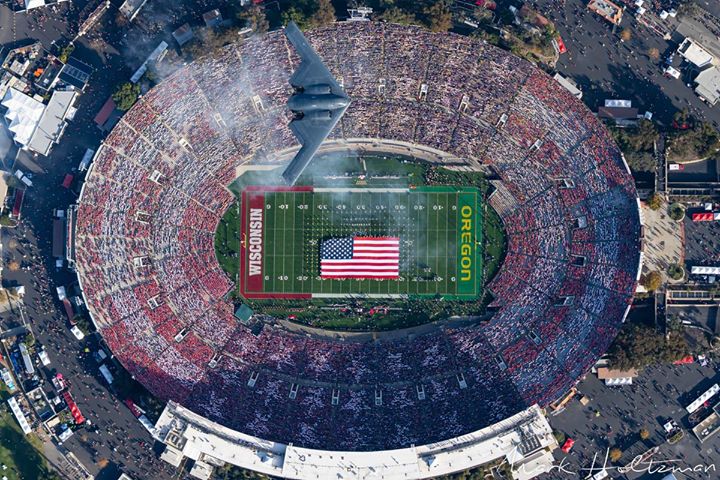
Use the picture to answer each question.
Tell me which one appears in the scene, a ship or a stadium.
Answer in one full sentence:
It is a stadium that can be seen here.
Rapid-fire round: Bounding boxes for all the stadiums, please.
[73,19,646,448]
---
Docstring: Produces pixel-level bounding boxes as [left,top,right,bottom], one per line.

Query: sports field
[241,187,482,298]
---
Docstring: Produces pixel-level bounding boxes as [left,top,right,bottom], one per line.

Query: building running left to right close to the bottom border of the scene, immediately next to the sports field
[156,399,559,480]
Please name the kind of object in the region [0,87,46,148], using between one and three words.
tent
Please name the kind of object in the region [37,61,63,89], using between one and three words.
building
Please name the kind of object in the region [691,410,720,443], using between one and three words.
building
